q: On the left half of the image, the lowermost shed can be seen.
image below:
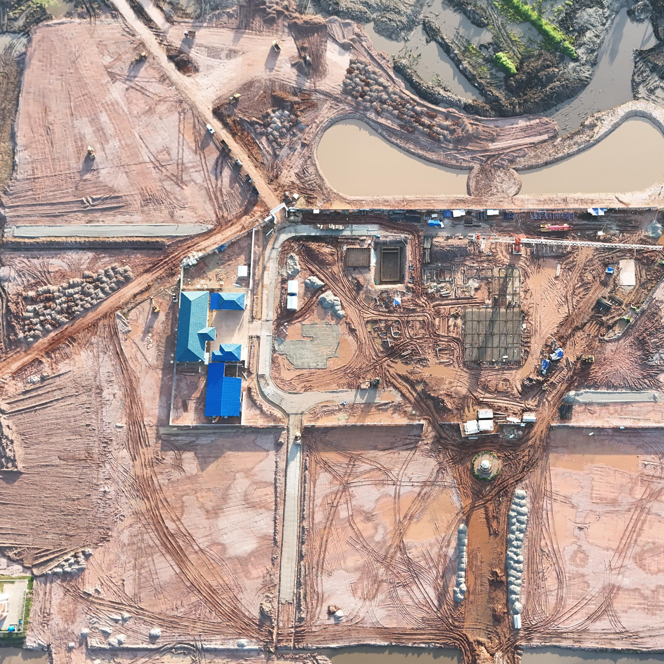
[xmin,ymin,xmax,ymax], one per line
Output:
[202,363,244,416]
